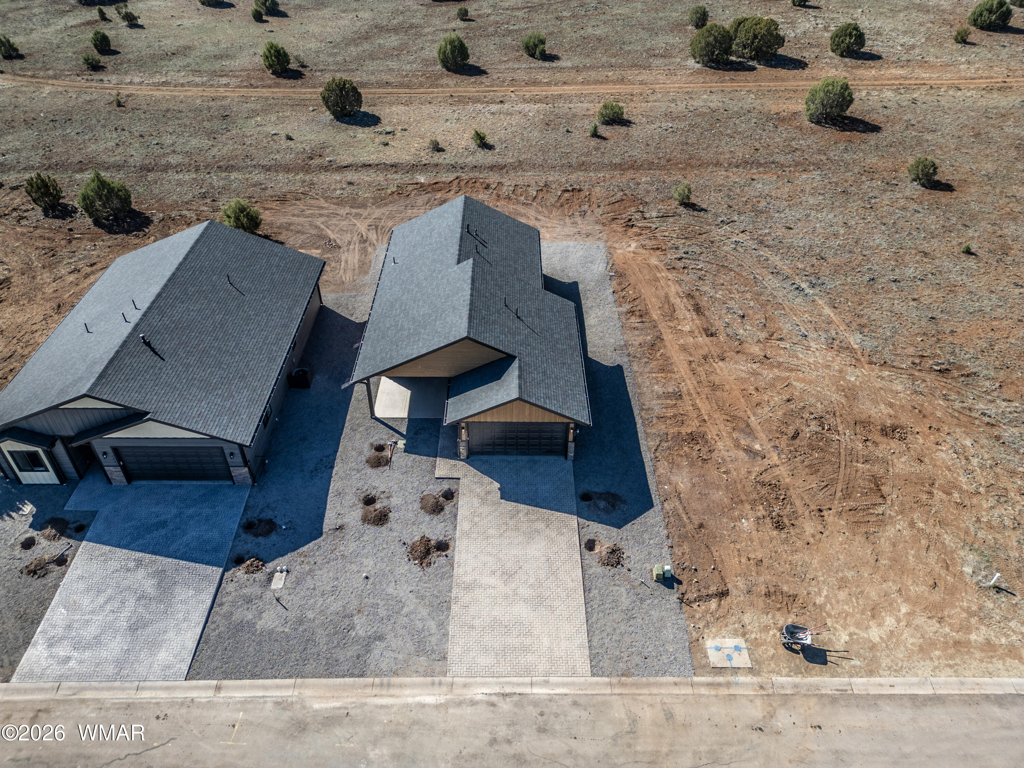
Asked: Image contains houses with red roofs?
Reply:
No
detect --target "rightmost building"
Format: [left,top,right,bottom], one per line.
[348,196,595,460]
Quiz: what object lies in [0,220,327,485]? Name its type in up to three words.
house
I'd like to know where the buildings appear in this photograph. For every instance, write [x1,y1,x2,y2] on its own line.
[0,220,327,485]
[348,196,595,460]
